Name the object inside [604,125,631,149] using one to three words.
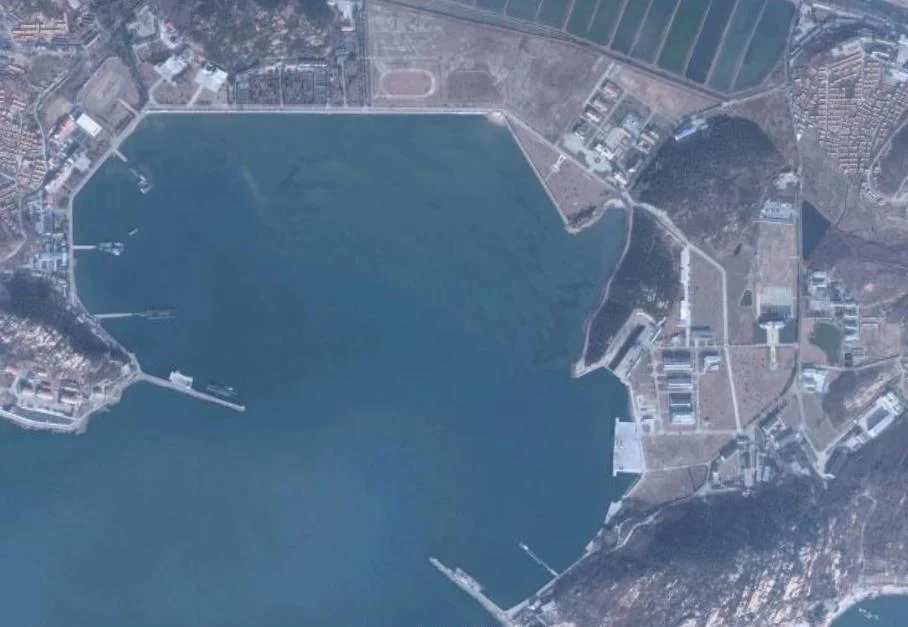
building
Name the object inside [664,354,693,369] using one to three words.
building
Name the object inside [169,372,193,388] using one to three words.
ship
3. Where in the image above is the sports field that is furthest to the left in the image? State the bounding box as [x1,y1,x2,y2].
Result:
[89,58,130,106]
